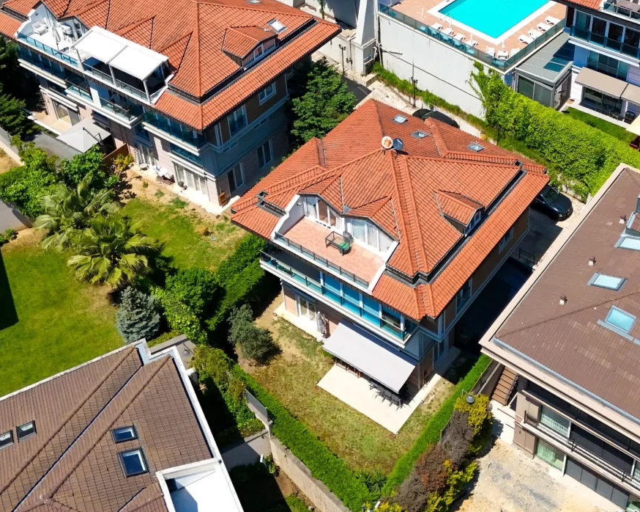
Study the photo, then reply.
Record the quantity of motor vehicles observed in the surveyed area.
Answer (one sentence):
There are 2 motor vehicles in the image.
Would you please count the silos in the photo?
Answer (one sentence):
Not a single silo can be seen.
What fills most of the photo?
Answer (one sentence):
The bulk of the photo consists of buildings.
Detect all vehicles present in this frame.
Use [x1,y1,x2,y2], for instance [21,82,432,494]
[410,104,464,136]
[529,195,579,236]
